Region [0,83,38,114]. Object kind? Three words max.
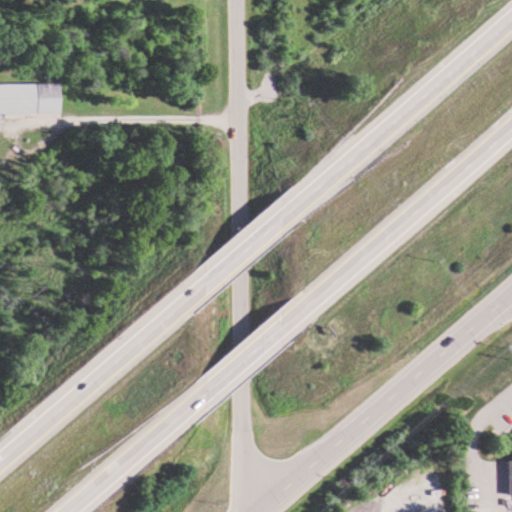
barn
